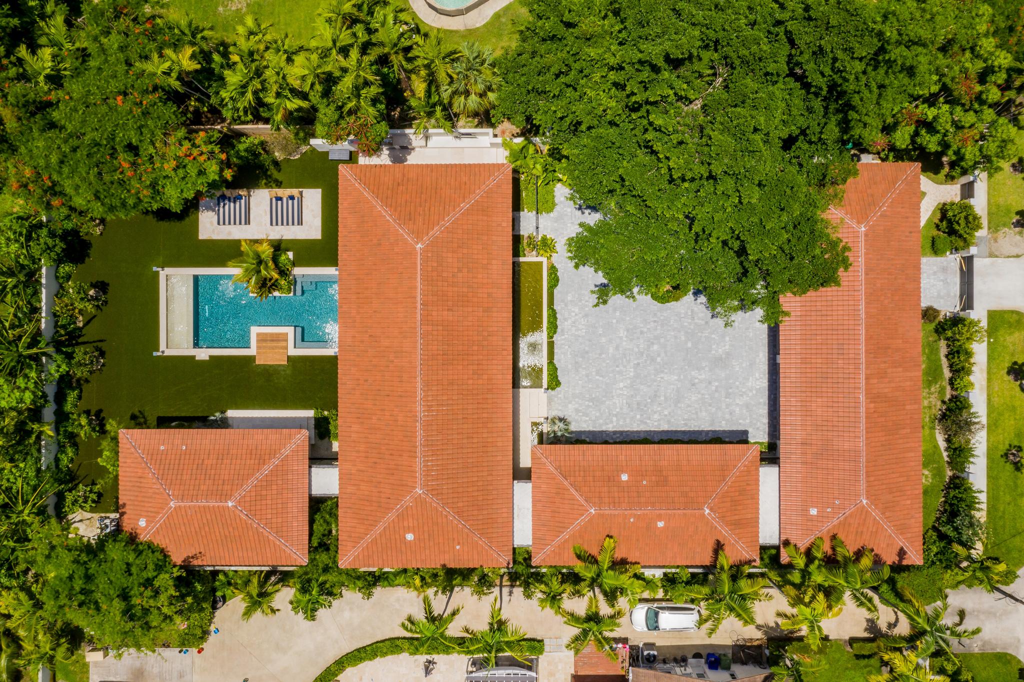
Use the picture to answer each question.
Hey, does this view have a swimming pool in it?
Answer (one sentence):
Yes, you can see a swimming pool in this photo.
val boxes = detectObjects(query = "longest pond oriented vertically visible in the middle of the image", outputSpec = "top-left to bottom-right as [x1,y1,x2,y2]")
[514,258,547,389]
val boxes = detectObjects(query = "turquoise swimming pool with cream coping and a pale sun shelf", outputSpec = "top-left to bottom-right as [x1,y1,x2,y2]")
[159,267,337,360]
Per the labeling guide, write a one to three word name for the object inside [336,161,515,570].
house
